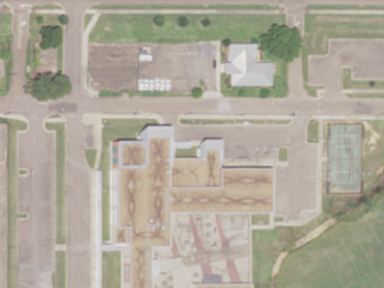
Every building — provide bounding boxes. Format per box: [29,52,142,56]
[108,125,275,288]
[224,43,275,86]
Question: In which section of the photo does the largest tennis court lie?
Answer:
right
